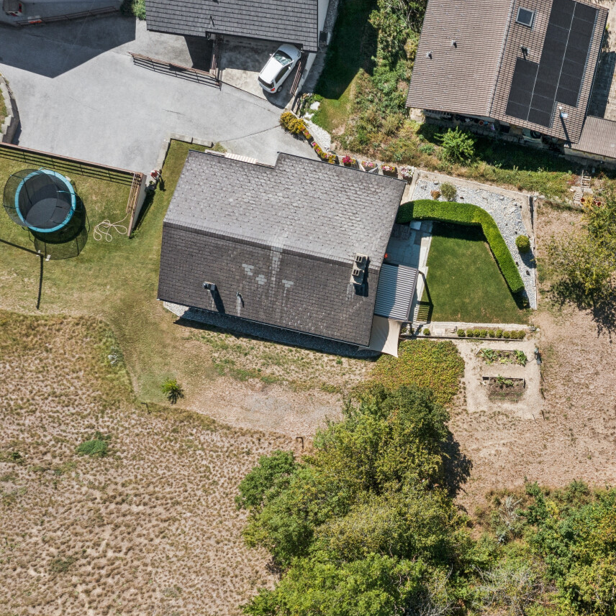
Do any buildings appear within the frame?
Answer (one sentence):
Yes, I can see a building in this picture.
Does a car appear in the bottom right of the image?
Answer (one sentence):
No, there is no car in the bottom right of the image.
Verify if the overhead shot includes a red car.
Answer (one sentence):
No, there is no red car in the image.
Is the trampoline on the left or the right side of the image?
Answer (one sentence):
It is on the left.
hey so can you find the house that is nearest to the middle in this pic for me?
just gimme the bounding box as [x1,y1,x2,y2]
[157,148,406,350]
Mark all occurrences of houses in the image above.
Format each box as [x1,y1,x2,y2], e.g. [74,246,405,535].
[405,0,608,146]
[141,0,330,52]
[157,148,406,350]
